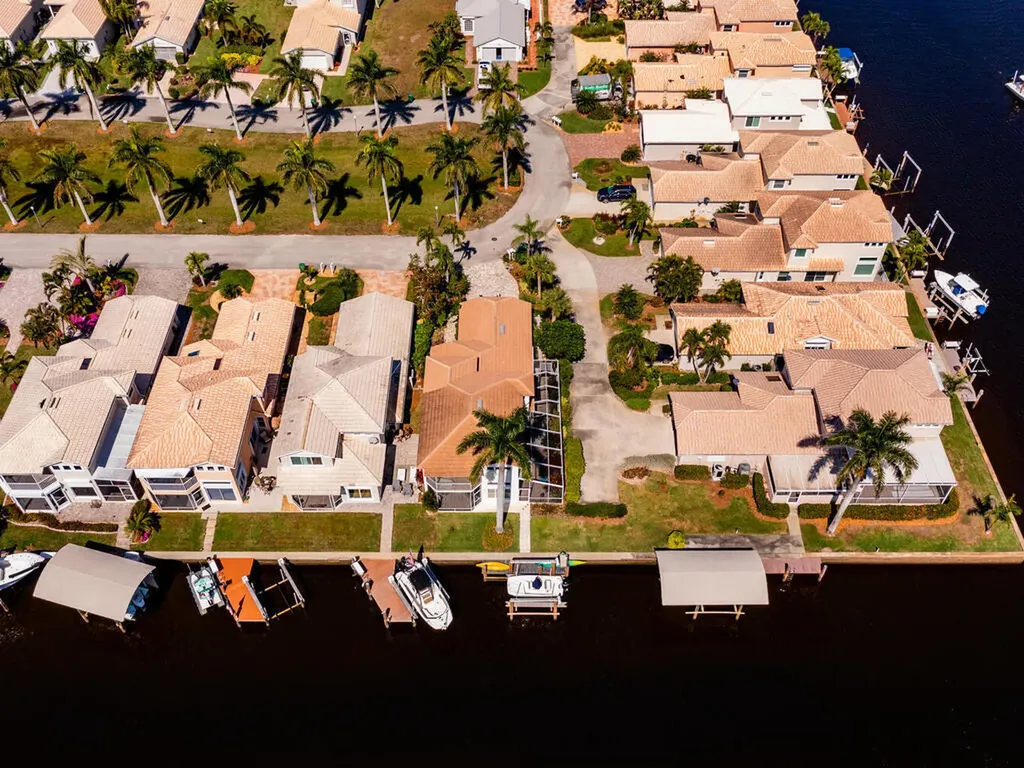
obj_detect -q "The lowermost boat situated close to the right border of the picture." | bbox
[934,265,993,324]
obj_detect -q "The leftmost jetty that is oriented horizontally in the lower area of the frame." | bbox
[480,563,581,590]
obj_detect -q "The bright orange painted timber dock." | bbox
[218,559,270,632]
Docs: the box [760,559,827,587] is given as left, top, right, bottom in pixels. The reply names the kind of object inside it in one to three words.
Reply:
pier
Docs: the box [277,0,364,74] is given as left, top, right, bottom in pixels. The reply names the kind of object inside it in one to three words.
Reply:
house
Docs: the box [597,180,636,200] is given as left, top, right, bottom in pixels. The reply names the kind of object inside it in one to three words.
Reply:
car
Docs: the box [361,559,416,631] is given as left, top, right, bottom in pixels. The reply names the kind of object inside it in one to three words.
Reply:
pier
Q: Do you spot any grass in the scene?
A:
Yes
